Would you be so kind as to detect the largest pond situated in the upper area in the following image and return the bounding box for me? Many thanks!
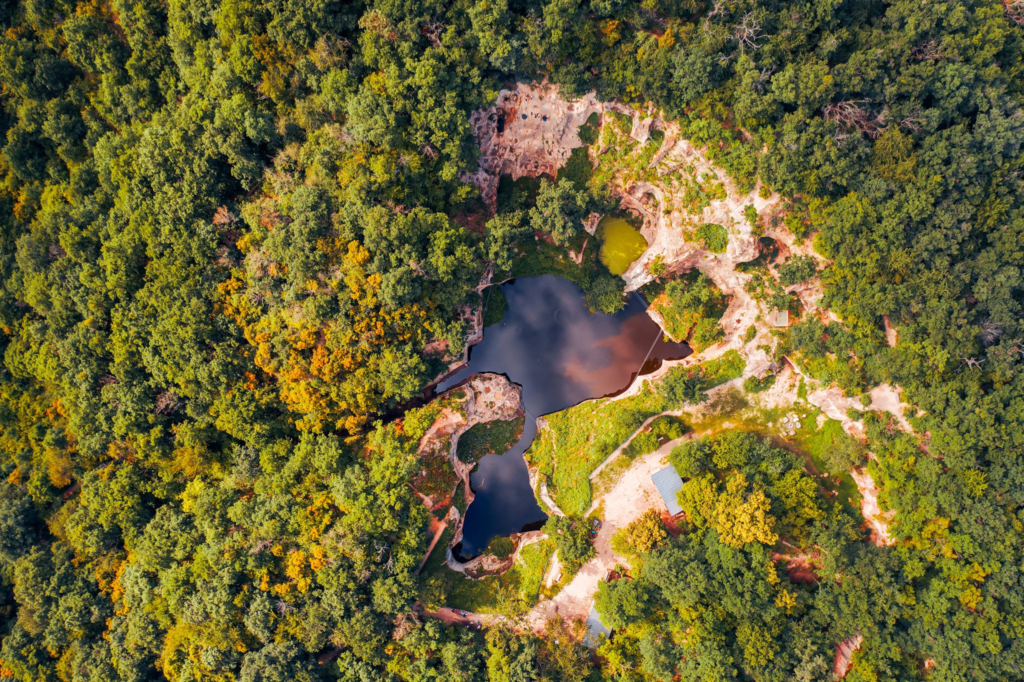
[596,216,646,275]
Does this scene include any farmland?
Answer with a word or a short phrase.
No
